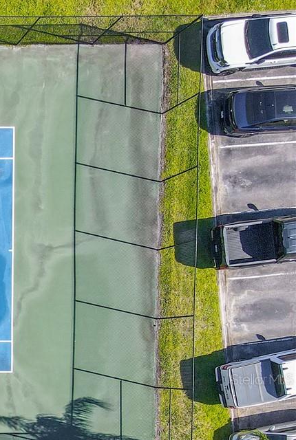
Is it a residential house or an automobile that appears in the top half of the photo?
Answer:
automobile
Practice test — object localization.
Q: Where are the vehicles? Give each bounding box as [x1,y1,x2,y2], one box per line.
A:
[212,350,296,410]
[221,84,296,138]
[226,420,296,440]
[205,209,296,265]
[205,11,296,71]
